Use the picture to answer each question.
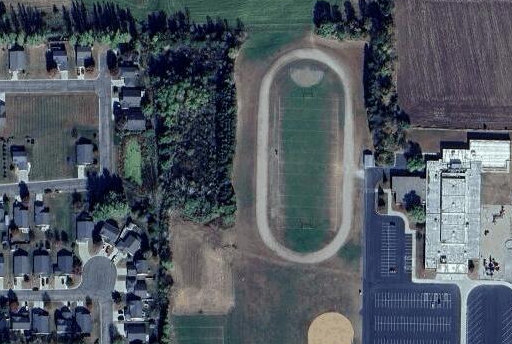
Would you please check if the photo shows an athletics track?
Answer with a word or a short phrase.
Yes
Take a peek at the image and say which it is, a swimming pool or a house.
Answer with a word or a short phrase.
house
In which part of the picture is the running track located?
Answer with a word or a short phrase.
center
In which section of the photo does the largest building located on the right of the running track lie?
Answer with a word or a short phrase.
right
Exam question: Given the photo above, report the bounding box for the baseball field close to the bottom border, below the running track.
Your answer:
[308,313,354,344]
